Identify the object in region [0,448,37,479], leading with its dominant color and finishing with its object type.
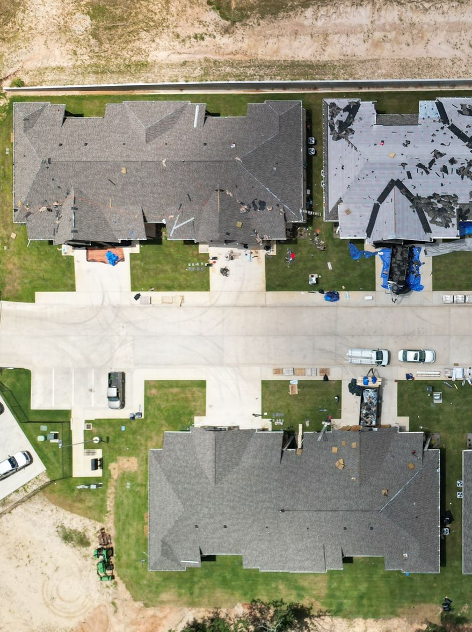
white truck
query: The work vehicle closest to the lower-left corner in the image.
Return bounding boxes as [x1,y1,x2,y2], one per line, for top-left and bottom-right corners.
[94,544,114,579]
